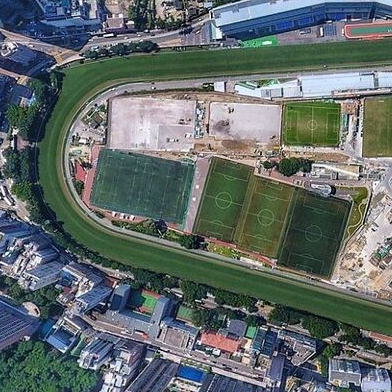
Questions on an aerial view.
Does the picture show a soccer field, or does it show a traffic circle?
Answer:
soccer field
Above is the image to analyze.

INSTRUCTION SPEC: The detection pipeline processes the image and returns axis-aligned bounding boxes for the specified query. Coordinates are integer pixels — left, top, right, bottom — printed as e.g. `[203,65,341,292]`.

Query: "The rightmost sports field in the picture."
[362,95,392,158]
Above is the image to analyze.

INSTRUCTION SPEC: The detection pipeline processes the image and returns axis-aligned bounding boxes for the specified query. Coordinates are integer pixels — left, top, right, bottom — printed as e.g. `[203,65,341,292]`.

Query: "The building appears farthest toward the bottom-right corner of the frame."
[359,368,391,392]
